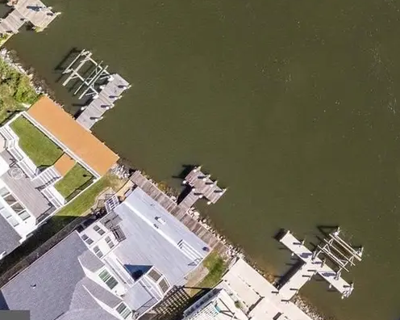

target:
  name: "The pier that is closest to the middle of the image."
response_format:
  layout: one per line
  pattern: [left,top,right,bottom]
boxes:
[178,165,230,212]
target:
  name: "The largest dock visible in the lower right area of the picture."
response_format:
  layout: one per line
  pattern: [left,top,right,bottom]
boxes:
[277,231,355,307]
